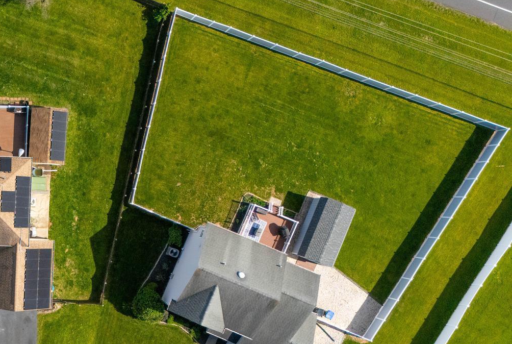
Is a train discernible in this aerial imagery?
No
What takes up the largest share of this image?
grass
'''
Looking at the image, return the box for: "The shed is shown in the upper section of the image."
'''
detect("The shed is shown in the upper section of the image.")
[30,108,68,165]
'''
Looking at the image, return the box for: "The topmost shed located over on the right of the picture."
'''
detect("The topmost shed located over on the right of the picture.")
[291,196,355,268]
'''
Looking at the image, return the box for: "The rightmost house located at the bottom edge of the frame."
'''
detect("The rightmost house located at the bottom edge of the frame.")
[159,223,321,344]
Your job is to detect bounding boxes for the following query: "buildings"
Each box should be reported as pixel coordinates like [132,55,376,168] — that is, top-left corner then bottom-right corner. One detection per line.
[291,196,355,268]
[159,223,321,344]
[0,156,54,312]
